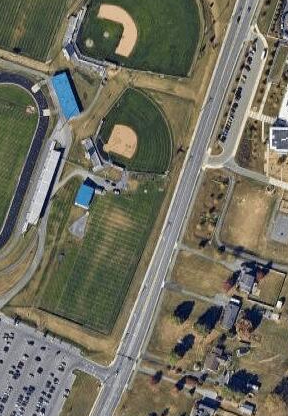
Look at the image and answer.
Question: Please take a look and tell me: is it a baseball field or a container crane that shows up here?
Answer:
baseball field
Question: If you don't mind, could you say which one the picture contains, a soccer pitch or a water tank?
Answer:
soccer pitch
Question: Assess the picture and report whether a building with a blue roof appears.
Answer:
Yes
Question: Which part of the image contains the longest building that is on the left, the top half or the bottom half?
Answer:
top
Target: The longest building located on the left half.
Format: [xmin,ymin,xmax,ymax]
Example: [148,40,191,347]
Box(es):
[51,71,81,120]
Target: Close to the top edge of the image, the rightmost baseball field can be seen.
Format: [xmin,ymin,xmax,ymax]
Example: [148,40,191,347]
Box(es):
[73,0,202,76]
